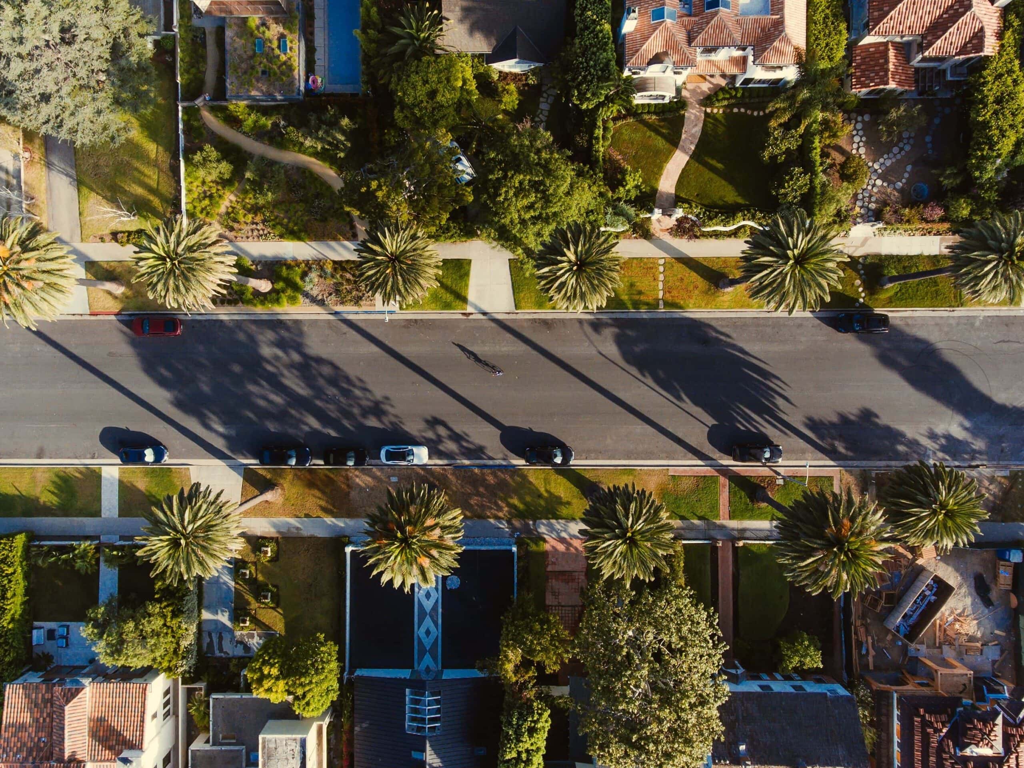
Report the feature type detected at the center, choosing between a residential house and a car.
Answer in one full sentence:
It is a car that can be seen at the center.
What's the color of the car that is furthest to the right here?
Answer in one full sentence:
The color of the car that is furthest to the right is black.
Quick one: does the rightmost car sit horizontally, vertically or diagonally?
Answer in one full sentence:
The rightmost car is laid out horizontally.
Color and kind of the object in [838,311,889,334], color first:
black car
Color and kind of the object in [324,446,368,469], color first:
black car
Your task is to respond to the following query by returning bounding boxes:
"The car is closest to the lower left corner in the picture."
[119,444,170,467]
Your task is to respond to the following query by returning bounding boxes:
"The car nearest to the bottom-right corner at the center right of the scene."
[731,442,780,466]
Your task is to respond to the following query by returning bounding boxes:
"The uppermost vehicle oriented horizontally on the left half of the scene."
[133,315,183,338]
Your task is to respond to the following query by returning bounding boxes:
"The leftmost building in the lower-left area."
[0,655,172,768]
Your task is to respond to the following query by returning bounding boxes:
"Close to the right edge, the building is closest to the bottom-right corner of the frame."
[859,656,1024,768]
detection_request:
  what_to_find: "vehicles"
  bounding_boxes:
[838,311,889,334]
[133,315,183,338]
[260,445,311,469]
[381,444,428,467]
[119,444,170,467]
[731,442,780,466]
[526,444,572,467]
[324,446,368,469]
